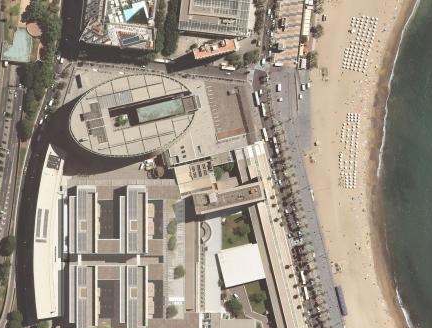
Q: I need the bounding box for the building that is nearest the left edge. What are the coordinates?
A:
[34,138,68,320]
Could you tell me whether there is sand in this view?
Yes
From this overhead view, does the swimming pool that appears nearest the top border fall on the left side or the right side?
left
